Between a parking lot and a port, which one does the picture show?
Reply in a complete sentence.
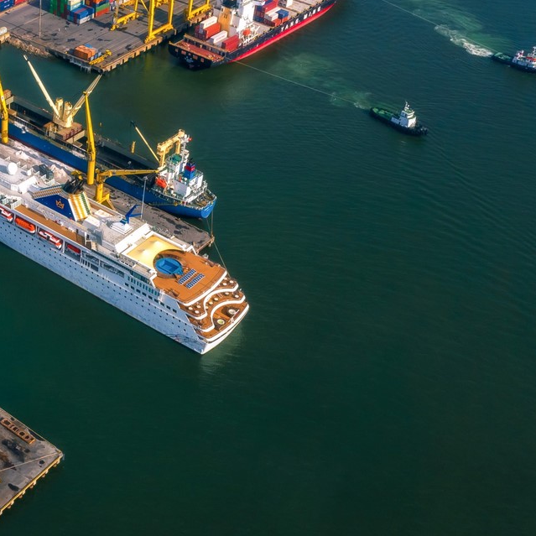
The area seen from above is a port.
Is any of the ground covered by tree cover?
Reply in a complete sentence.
No, the picture contains no tree cover.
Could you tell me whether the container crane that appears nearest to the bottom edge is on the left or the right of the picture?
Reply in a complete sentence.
It is on the left.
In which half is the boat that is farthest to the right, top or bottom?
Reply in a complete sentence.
You can find the boat that is farthest to the right in the top half.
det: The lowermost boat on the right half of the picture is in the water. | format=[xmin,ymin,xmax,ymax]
[368,99,429,132]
